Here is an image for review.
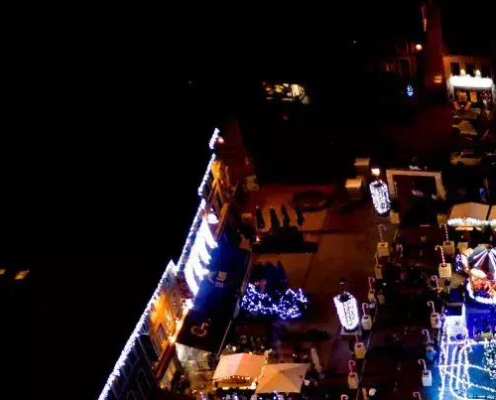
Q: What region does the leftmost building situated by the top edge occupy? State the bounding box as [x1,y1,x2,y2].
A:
[228,15,338,112]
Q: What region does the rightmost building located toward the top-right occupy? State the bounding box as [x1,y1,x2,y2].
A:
[439,14,496,106]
